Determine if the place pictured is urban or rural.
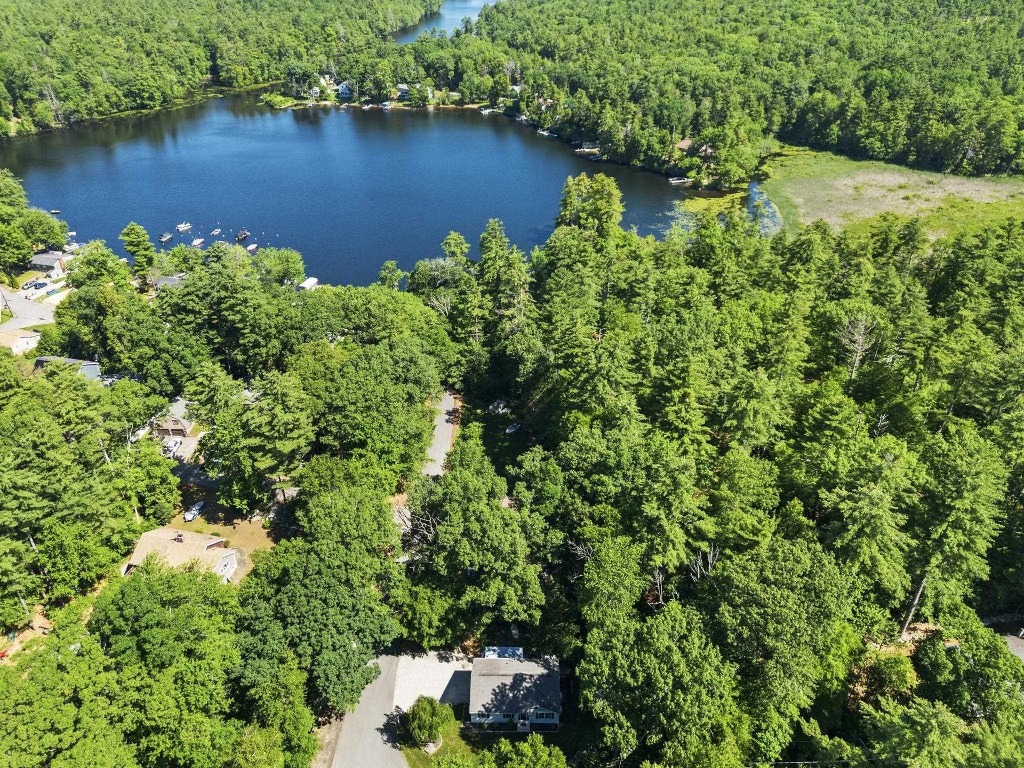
rural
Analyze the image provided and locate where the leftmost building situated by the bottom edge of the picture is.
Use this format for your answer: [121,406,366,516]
[470,645,562,740]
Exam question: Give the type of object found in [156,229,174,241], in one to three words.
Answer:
boat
